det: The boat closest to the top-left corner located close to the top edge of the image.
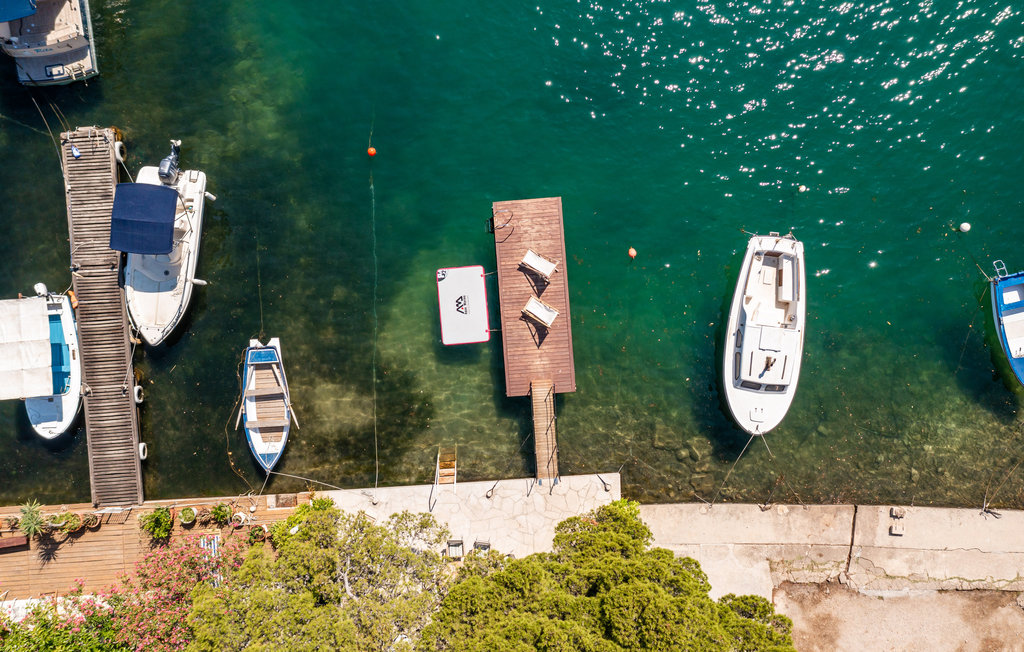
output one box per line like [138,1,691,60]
[0,0,103,88]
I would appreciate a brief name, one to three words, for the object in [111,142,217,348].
boat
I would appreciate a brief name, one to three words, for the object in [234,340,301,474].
boat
